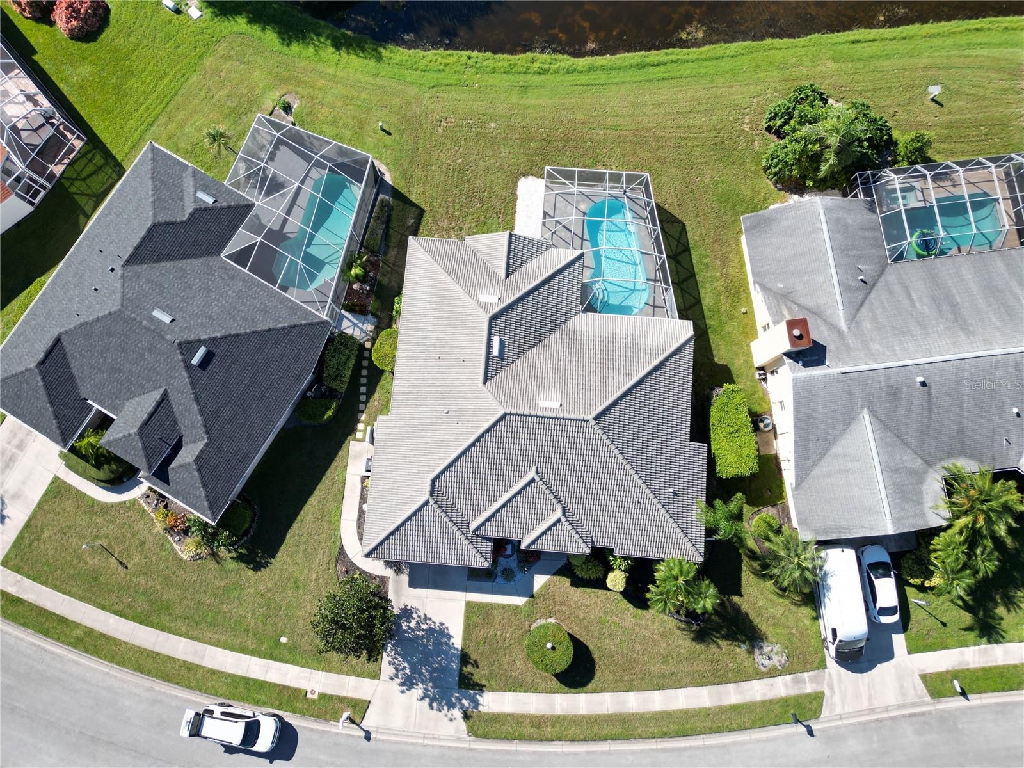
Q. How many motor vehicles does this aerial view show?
3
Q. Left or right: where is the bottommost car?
left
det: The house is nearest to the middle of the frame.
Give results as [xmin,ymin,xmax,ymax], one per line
[360,230,708,569]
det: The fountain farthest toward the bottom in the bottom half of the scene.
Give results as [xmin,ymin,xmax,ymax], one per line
[499,542,520,563]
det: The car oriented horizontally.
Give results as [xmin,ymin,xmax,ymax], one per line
[177,700,283,749]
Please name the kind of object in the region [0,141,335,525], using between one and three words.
house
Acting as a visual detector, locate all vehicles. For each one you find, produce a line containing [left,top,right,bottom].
[816,551,870,658]
[858,544,902,626]
[177,700,283,749]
